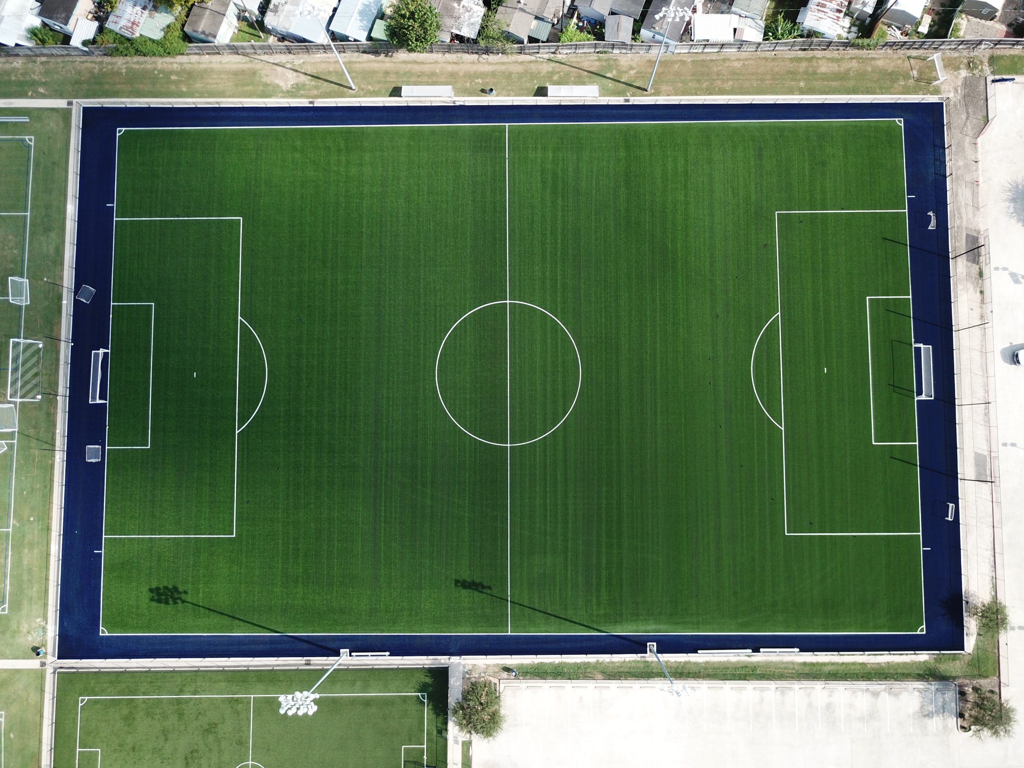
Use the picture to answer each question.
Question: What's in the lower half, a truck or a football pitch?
football pitch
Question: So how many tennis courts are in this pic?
none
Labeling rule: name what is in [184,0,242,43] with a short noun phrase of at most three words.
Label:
house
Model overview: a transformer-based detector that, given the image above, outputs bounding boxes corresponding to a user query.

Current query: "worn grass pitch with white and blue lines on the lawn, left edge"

[0,136,39,613]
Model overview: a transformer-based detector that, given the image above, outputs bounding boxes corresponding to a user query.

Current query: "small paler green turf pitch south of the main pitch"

[50,665,451,768]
